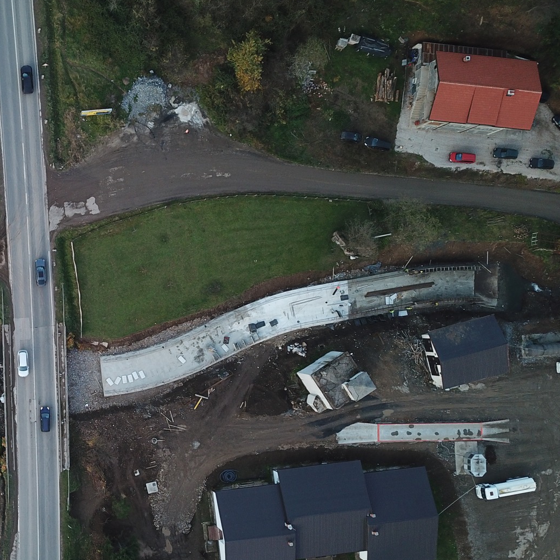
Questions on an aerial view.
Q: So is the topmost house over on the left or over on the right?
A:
right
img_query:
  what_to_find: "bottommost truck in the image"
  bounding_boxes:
[479,478,546,506]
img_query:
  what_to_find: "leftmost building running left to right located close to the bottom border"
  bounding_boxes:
[196,458,437,560]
